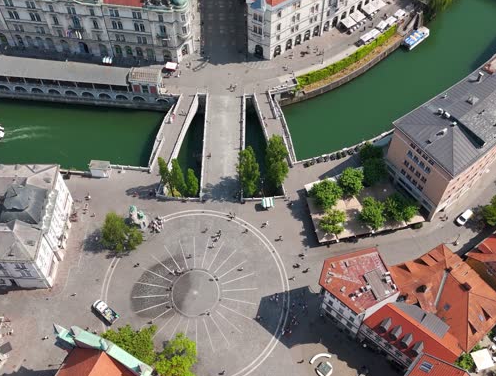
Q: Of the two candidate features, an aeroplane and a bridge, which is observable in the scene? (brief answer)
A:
bridge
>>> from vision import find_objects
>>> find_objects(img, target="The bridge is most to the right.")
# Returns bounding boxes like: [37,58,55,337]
[253,91,297,193]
